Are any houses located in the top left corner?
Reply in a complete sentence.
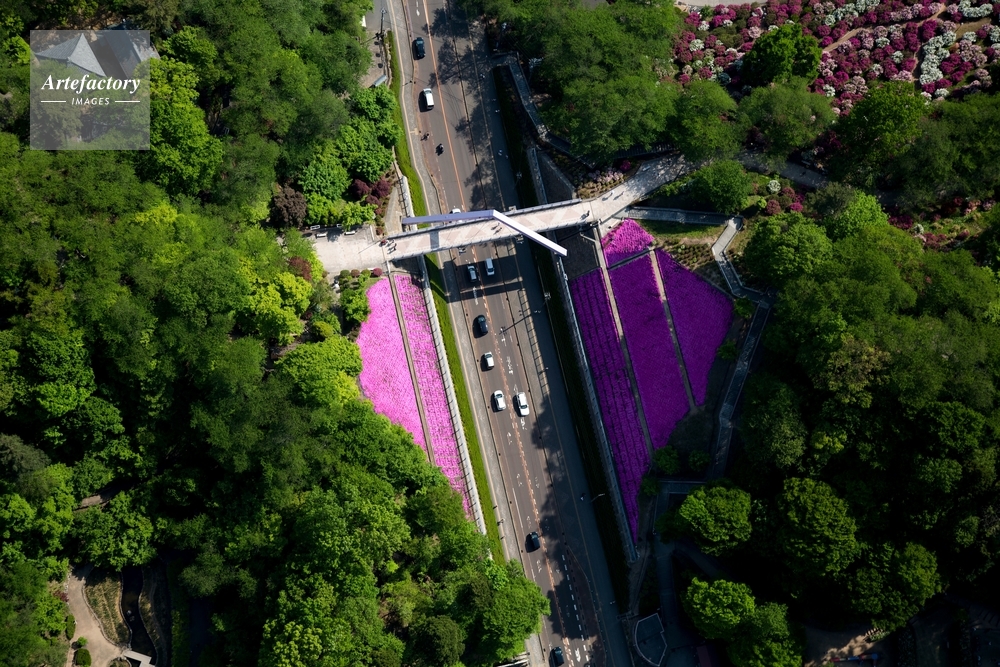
Yes, a house is visible in the top left corner.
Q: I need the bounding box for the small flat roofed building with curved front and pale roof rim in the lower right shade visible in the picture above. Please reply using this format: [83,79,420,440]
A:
[633,612,668,667]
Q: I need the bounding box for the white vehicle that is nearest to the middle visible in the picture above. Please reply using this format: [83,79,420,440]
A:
[483,351,496,372]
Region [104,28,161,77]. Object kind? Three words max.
house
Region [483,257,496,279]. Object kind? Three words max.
vehicle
